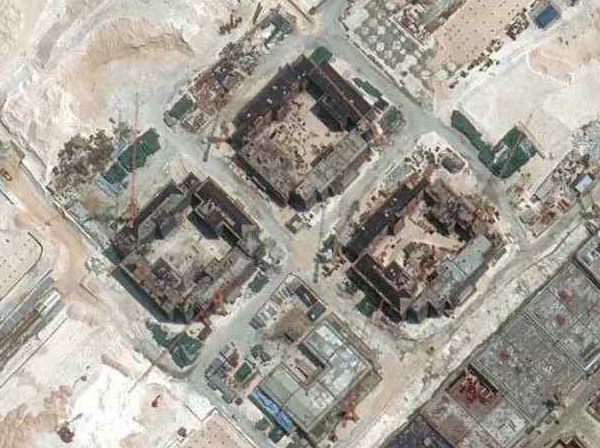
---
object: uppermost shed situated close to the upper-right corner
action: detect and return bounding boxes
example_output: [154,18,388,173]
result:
[534,5,560,28]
